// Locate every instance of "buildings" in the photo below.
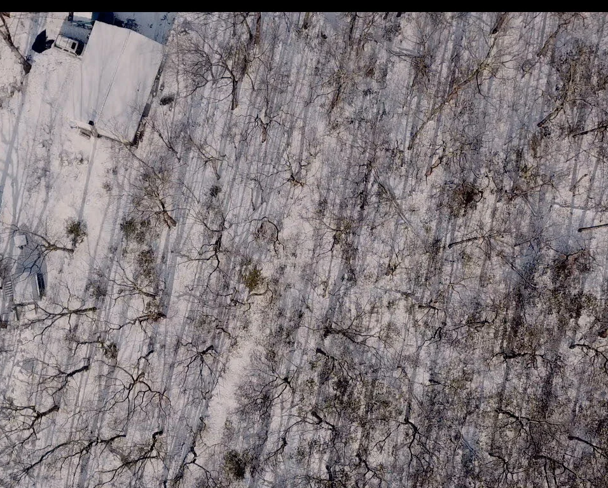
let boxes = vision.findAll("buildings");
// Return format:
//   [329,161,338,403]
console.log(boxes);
[61,20,169,143]
[8,273,37,305]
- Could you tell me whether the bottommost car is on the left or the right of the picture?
left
